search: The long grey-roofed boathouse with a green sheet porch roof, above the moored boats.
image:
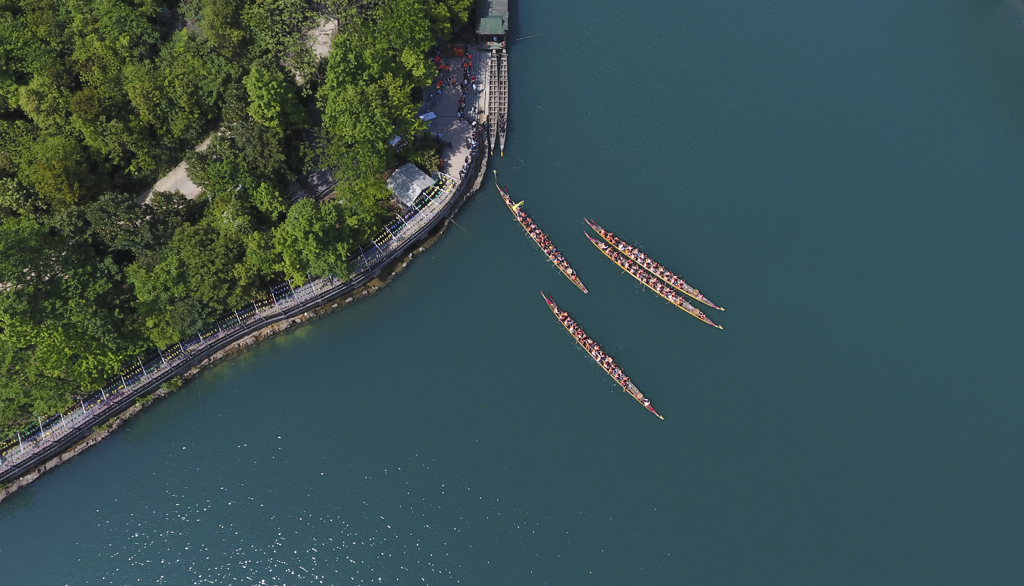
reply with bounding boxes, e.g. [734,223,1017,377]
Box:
[476,0,509,52]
